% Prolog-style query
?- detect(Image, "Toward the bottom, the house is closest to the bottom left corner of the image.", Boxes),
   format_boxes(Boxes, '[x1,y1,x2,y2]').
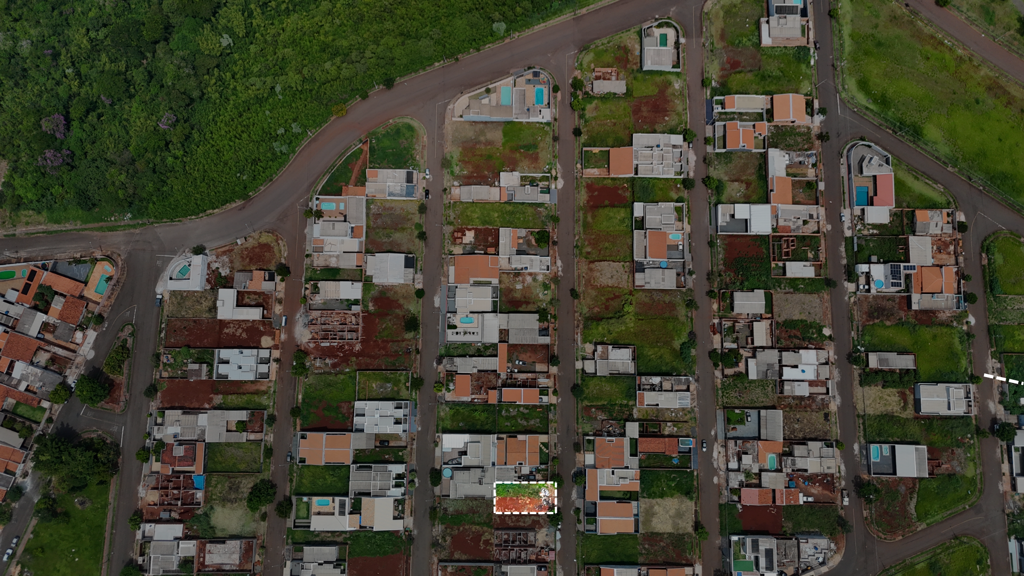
[0,428,34,502]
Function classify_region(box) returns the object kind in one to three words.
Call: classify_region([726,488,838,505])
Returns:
house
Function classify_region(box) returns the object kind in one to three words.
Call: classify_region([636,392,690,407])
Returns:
house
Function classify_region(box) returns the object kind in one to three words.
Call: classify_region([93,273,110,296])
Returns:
swimming pool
